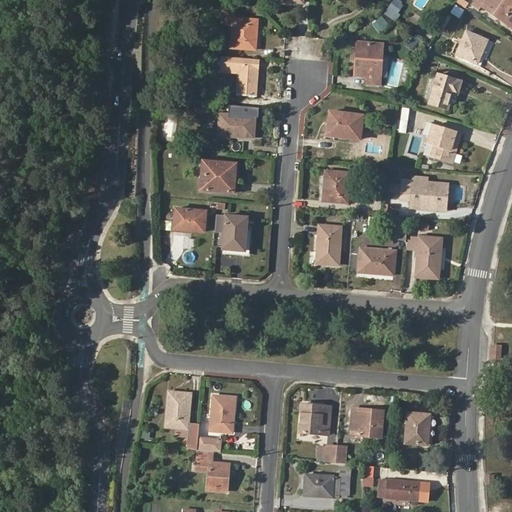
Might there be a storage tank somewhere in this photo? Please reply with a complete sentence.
No, the picture doesn't show any storage tank.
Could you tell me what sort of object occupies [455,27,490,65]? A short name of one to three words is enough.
house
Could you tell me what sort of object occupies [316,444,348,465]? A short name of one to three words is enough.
building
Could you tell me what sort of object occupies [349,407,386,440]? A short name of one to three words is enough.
house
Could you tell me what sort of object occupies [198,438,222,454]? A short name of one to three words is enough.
building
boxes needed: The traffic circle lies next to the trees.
[60,287,113,345]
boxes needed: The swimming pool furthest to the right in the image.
[448,186,463,206]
